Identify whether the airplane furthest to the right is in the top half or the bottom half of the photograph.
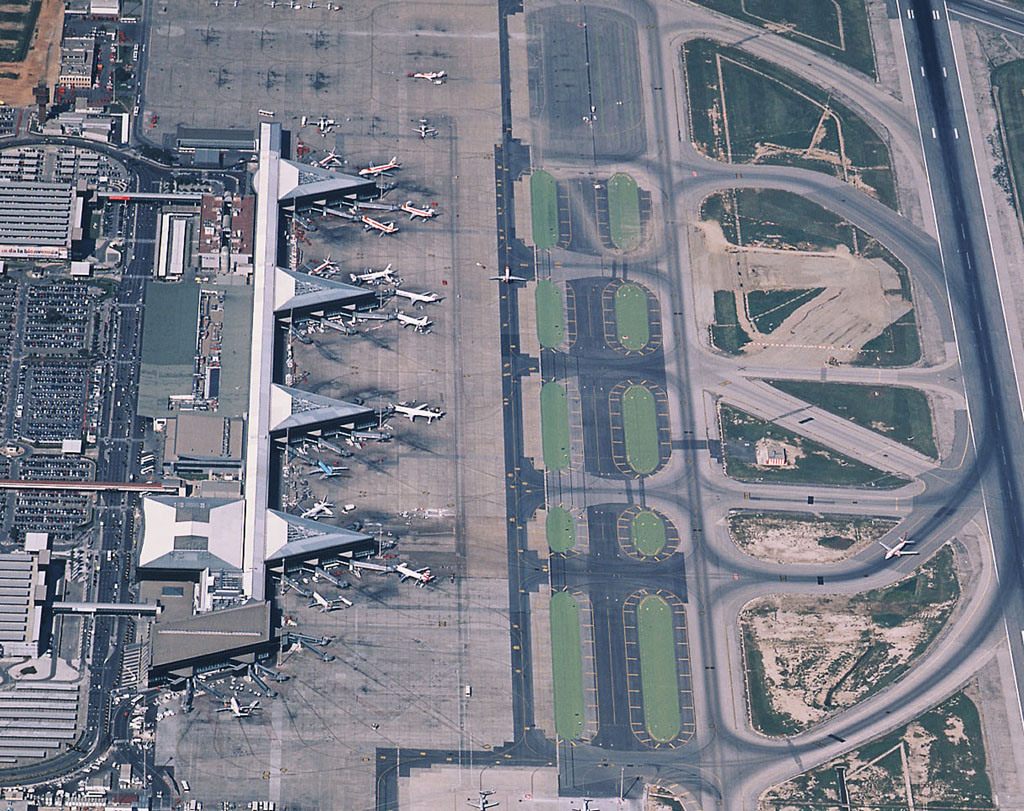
bottom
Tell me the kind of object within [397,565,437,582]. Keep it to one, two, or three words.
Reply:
airplane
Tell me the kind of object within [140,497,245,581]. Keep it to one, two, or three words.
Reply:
building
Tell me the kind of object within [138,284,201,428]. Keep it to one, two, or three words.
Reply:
building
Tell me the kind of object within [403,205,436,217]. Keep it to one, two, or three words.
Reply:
airplane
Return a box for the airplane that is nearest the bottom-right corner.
[883,532,919,559]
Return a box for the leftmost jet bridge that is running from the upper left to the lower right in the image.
[193,676,229,700]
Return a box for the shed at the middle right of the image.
[760,446,784,464]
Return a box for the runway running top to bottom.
[897,0,1024,731]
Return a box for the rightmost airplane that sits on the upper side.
[491,267,524,283]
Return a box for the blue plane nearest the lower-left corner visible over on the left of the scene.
[316,462,344,476]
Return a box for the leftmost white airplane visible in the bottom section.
[221,699,256,716]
